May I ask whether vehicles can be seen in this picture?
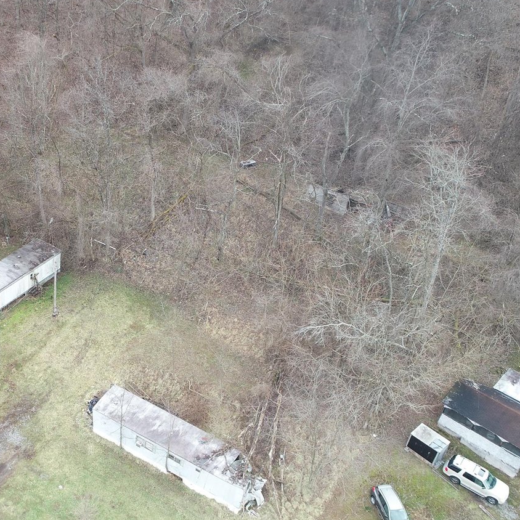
Yes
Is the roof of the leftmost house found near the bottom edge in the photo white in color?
Yes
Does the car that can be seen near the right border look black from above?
No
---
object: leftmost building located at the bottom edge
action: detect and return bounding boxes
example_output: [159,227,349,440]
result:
[92,386,257,515]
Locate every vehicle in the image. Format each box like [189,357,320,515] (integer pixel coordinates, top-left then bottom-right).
[372,483,411,520]
[445,459,510,506]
